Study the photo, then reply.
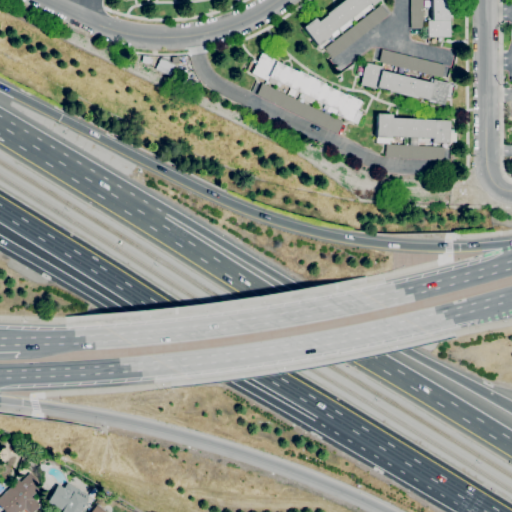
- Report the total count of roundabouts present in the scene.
0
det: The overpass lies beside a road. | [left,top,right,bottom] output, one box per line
[0,276,512,388]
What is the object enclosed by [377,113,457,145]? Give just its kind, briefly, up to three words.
building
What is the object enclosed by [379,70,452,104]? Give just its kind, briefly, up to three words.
building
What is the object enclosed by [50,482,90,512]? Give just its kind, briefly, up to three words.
house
